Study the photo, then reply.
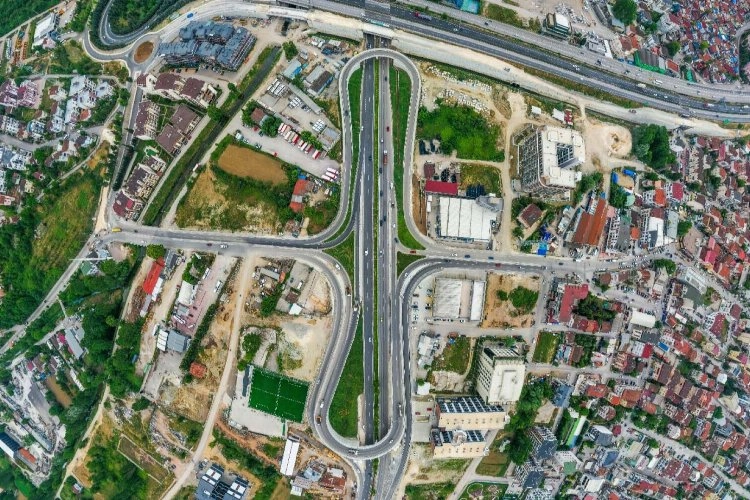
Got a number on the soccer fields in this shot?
one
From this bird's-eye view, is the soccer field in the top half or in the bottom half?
bottom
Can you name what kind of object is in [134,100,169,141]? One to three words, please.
building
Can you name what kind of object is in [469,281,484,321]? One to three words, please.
shed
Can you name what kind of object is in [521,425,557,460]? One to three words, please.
building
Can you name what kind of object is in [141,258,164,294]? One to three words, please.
shed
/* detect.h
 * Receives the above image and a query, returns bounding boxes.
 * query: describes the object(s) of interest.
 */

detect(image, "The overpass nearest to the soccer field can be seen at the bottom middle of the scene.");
[316,325,406,458]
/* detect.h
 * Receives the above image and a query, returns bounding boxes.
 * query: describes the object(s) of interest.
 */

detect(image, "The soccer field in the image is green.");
[248,366,308,423]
